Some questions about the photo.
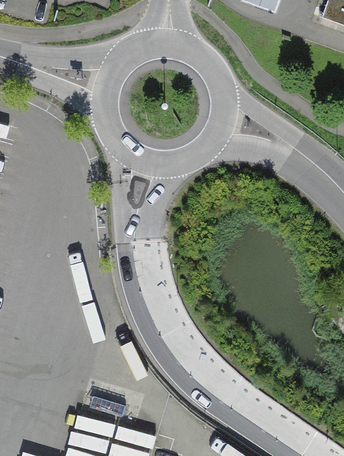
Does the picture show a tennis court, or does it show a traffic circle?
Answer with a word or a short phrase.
traffic circle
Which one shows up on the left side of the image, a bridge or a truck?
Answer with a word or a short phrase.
truck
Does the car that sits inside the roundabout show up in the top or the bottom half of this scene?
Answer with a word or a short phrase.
top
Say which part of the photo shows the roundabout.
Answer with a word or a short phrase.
top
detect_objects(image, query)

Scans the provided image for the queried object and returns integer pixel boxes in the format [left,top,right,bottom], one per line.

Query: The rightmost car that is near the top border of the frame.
[34,0,48,22]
